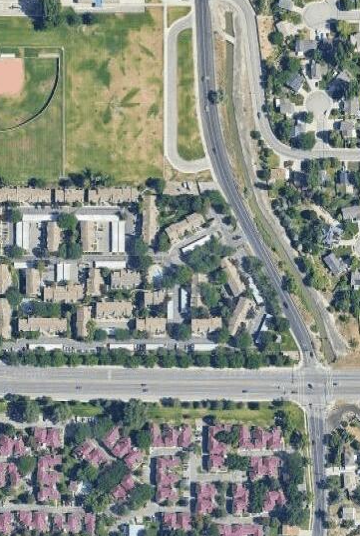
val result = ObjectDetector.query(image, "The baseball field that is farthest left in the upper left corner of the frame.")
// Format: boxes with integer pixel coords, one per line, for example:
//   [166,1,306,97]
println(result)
[0,49,58,130]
